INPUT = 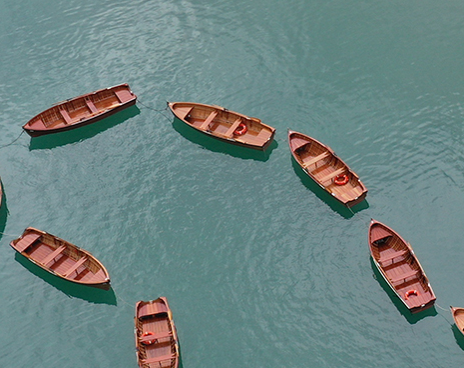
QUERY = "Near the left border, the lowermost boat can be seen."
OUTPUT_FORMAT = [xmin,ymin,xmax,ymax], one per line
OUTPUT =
[9,225,110,287]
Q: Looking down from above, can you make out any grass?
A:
No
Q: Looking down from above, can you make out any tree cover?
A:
No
